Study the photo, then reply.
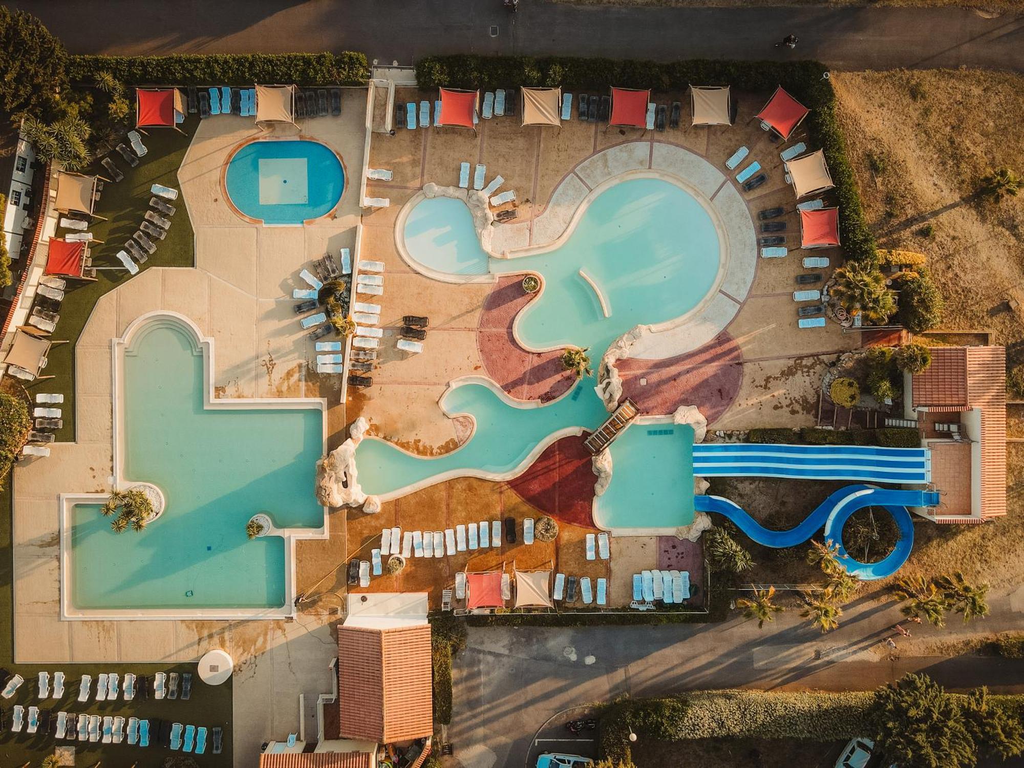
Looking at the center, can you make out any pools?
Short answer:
Yes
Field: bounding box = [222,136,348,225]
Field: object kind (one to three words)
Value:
swimming pool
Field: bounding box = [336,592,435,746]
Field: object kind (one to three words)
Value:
building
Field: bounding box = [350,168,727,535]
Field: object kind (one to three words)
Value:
swimming pool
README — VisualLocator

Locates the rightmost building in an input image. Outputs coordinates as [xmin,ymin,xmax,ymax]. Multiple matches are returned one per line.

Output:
[890,346,1008,522]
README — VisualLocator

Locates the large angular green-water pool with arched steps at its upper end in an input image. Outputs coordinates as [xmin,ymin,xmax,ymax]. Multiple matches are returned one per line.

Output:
[60,310,328,620]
